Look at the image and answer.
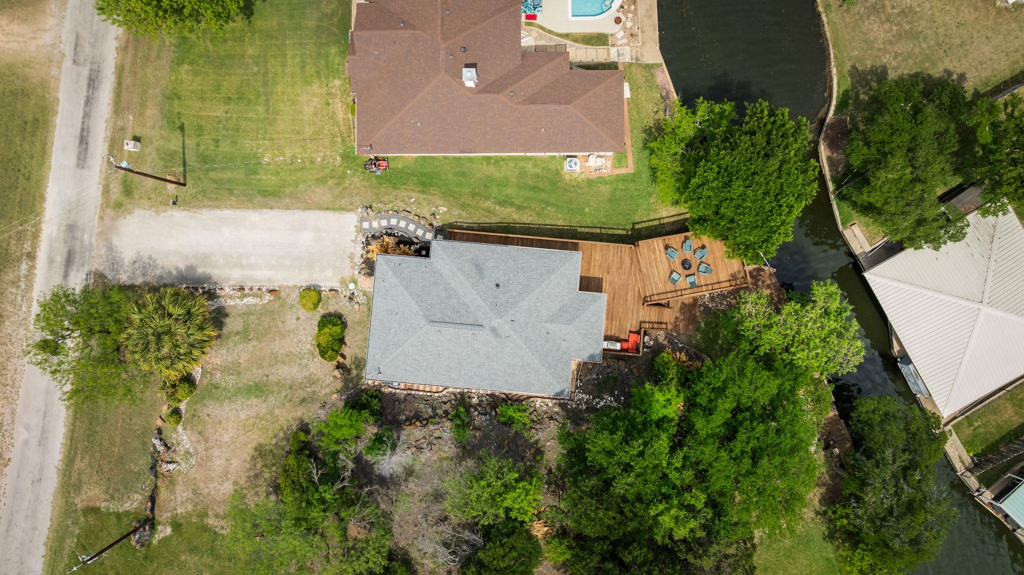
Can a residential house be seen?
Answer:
Yes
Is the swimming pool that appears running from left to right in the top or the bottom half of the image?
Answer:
top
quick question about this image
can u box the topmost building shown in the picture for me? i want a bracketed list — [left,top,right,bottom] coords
[348,0,625,156]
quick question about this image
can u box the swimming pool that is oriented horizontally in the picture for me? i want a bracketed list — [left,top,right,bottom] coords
[568,0,620,20]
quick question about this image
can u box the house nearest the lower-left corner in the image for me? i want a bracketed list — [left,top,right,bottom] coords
[363,237,608,400]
